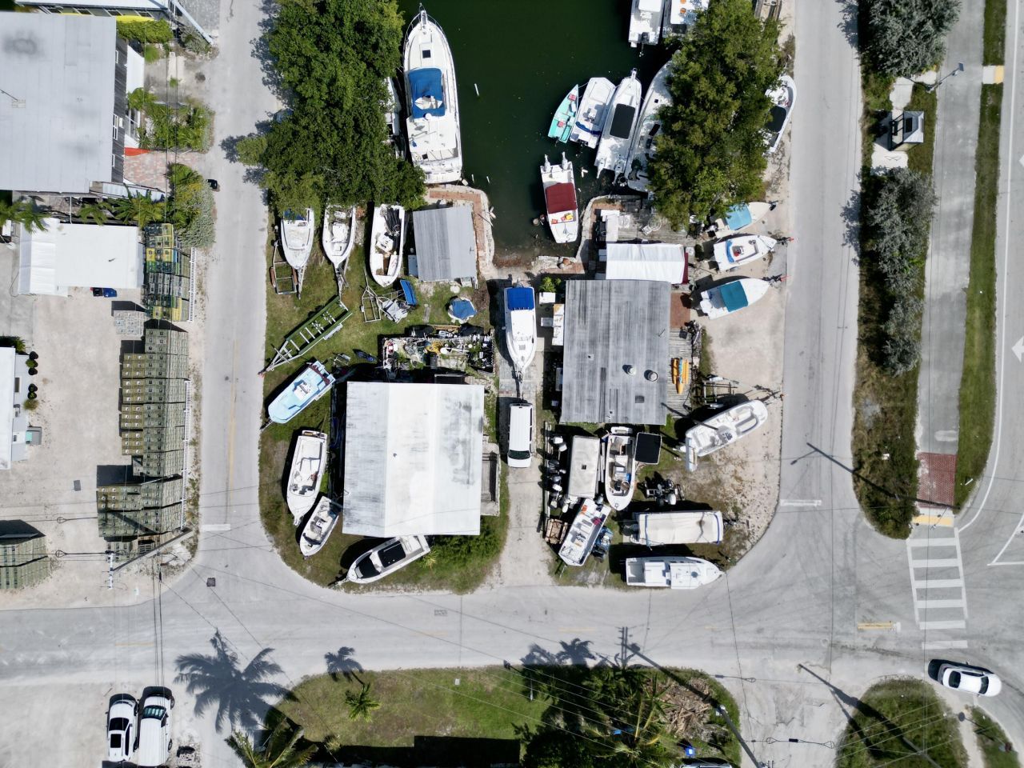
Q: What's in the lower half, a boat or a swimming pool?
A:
boat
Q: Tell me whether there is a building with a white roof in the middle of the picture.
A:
Yes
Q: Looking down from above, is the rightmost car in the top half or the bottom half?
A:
bottom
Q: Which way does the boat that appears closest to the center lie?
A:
vertically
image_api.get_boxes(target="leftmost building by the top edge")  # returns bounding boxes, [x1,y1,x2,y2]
[0,0,127,193]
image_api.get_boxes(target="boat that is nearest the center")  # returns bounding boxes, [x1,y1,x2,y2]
[503,276,539,372]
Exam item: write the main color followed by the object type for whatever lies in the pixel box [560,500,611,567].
white boat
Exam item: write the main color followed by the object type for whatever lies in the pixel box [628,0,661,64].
white boat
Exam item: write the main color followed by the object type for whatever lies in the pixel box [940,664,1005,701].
white car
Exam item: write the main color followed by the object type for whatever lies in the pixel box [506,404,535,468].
white van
